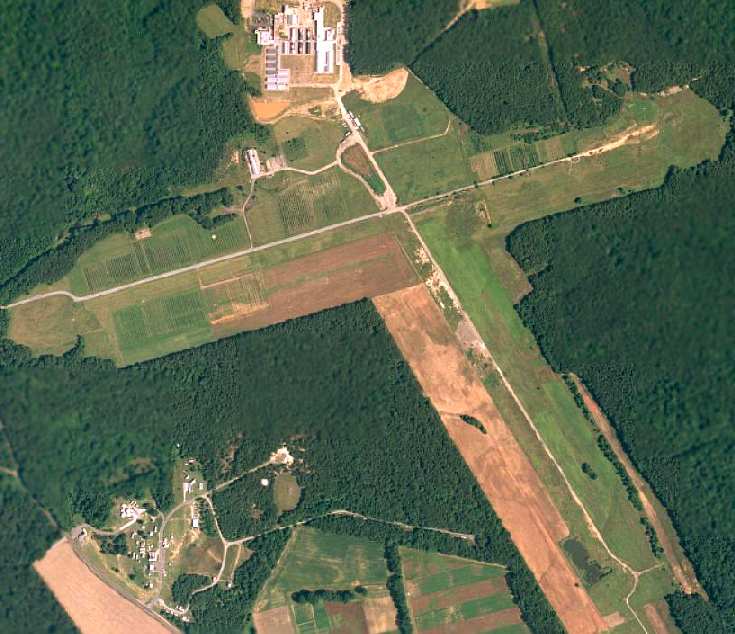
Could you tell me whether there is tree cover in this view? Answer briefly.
Yes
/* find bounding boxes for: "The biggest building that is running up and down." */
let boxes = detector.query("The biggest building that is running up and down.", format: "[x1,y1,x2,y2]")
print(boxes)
[317,19,334,72]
